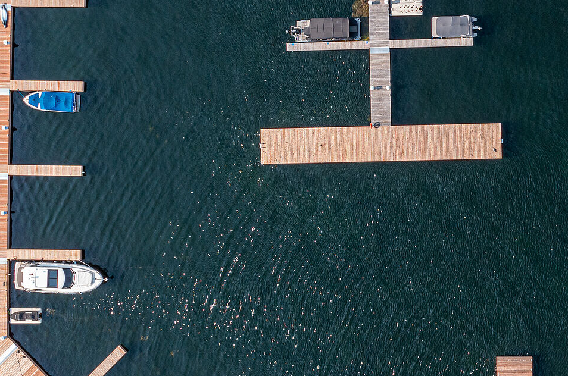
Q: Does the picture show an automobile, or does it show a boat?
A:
boat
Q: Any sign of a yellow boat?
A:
No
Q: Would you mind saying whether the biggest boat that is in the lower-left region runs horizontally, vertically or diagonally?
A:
horizontally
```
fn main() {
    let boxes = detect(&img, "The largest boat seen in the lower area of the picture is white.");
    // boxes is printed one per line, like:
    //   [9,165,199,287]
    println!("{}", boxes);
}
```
[14,261,106,295]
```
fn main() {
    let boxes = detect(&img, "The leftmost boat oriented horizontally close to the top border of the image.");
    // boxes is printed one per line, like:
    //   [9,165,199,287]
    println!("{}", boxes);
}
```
[289,16,361,42]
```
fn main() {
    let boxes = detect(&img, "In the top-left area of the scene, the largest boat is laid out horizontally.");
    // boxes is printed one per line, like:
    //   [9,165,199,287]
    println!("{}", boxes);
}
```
[22,90,82,111]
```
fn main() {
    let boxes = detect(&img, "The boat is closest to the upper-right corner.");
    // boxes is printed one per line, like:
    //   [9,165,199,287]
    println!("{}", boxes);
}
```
[431,14,480,40]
